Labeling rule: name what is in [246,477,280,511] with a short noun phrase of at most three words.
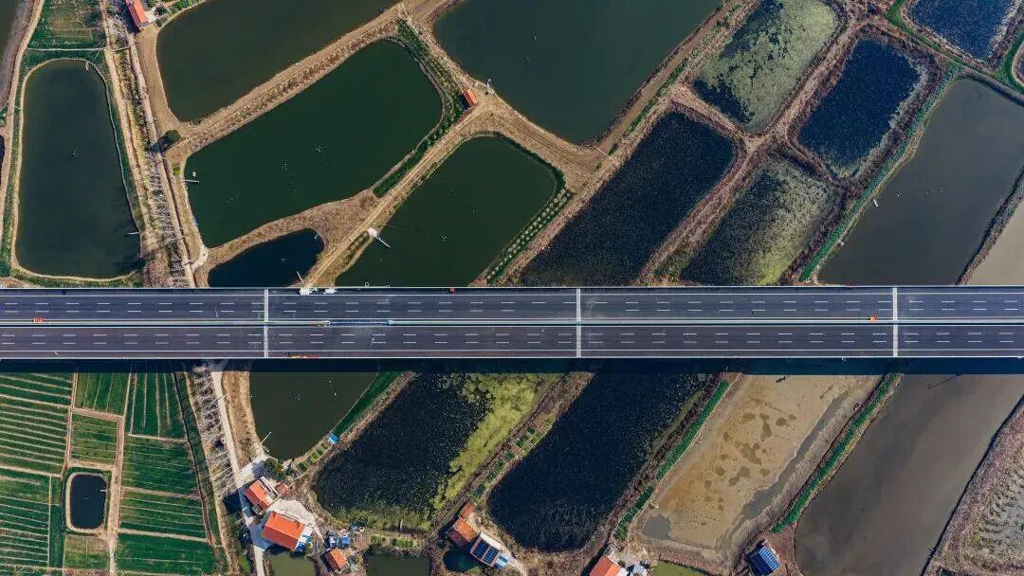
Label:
house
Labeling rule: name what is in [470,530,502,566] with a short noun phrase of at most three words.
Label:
barn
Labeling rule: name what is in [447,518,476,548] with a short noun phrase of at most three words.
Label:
house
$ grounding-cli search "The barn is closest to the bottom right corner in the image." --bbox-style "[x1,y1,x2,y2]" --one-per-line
[749,544,780,576]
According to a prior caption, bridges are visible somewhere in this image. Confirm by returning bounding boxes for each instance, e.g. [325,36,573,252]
[0,286,1024,359]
